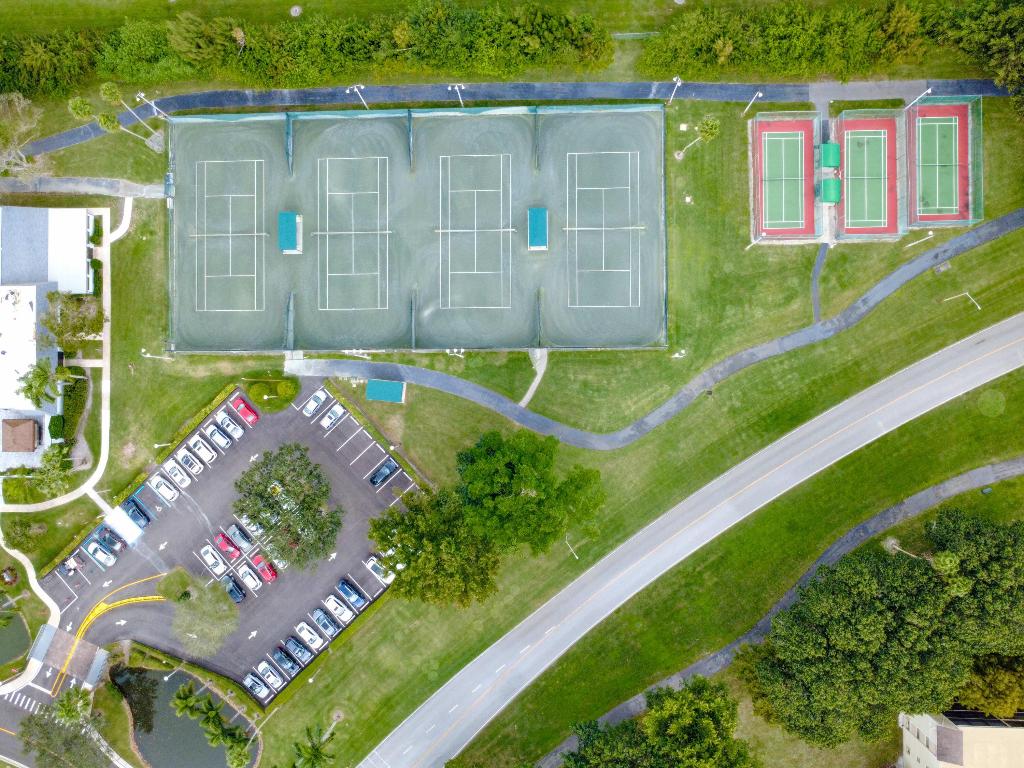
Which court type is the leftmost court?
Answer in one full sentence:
The leftmost court appears to be a tennis court.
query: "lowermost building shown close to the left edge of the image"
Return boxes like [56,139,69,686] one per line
[2,419,42,452]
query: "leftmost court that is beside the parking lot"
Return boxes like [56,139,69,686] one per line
[172,117,292,350]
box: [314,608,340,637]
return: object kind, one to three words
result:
car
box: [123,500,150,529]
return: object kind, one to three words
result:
car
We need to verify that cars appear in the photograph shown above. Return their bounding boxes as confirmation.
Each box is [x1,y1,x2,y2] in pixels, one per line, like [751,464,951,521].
[88,541,114,567]
[219,572,247,601]
[326,593,353,624]
[164,461,190,489]
[123,500,150,529]
[97,526,125,555]
[244,672,270,701]
[232,396,257,424]
[206,425,230,450]
[301,390,329,417]
[259,661,283,688]
[228,523,254,551]
[297,620,323,650]
[217,410,243,439]
[367,555,391,582]
[200,545,228,575]
[213,532,241,561]
[340,578,366,607]
[189,435,217,464]
[318,403,346,431]
[314,608,340,637]
[150,474,178,502]
[286,636,310,663]
[238,565,262,591]
[179,449,202,474]
[251,553,278,582]
[264,541,291,571]
[272,646,300,677]
[370,459,396,484]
